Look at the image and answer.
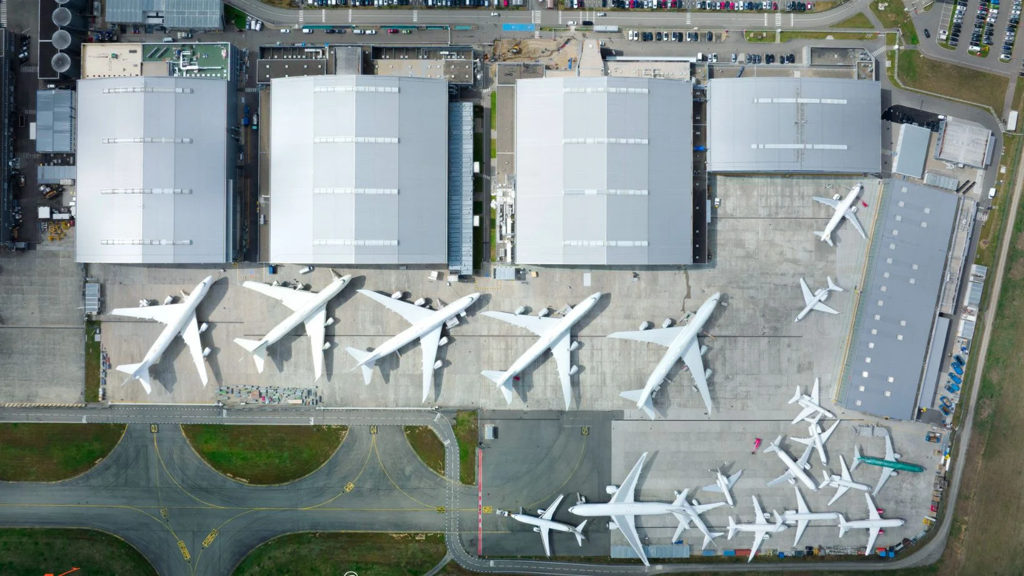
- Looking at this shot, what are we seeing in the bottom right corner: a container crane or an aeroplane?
aeroplane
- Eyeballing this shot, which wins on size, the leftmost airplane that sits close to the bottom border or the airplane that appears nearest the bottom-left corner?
the airplane that appears nearest the bottom-left corner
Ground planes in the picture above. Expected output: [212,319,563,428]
[105,276,212,394]
[838,494,905,557]
[232,274,351,378]
[853,431,924,496]
[795,418,842,465]
[511,498,585,563]
[673,490,725,546]
[342,289,480,405]
[605,292,720,423]
[794,277,841,322]
[703,468,741,508]
[478,292,601,412]
[568,455,692,569]
[764,437,816,491]
[728,497,788,562]
[824,459,870,506]
[790,379,836,424]
[812,183,867,247]
[776,490,841,546]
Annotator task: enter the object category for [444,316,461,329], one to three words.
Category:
vehicle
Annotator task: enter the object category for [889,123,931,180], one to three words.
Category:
building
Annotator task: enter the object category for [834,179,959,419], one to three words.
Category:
hangar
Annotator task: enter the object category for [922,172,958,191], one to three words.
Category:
shed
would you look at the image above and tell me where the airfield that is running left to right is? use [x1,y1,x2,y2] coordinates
[0,174,954,576]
